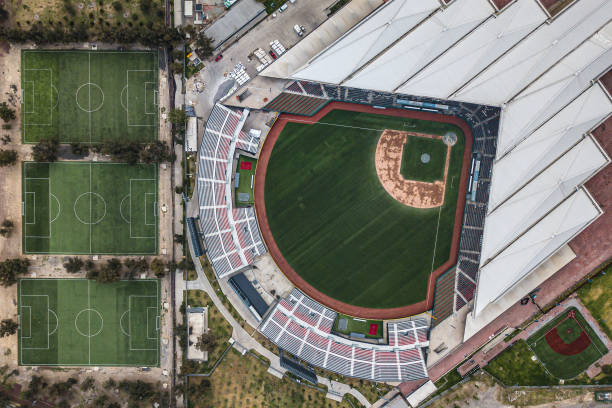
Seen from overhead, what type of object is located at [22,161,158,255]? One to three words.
soccer field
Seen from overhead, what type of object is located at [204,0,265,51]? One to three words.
building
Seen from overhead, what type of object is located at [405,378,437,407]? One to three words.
building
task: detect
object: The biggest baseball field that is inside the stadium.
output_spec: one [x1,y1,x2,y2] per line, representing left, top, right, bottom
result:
[254,101,472,320]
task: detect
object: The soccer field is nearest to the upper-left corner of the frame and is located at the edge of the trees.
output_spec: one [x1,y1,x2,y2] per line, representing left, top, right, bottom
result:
[22,50,158,143]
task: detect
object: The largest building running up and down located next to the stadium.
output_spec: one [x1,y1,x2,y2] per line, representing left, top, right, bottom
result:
[185,116,198,152]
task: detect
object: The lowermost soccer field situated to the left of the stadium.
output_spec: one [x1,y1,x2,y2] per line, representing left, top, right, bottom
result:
[18,279,160,367]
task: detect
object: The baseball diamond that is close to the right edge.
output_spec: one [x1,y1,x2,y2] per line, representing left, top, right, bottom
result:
[527,305,611,380]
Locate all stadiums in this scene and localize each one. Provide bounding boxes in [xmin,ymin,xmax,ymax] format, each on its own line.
[198,0,612,382]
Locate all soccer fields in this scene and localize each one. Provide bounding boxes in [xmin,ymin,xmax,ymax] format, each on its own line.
[22,161,158,255]
[22,50,158,143]
[18,279,160,367]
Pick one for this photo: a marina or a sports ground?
sports ground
